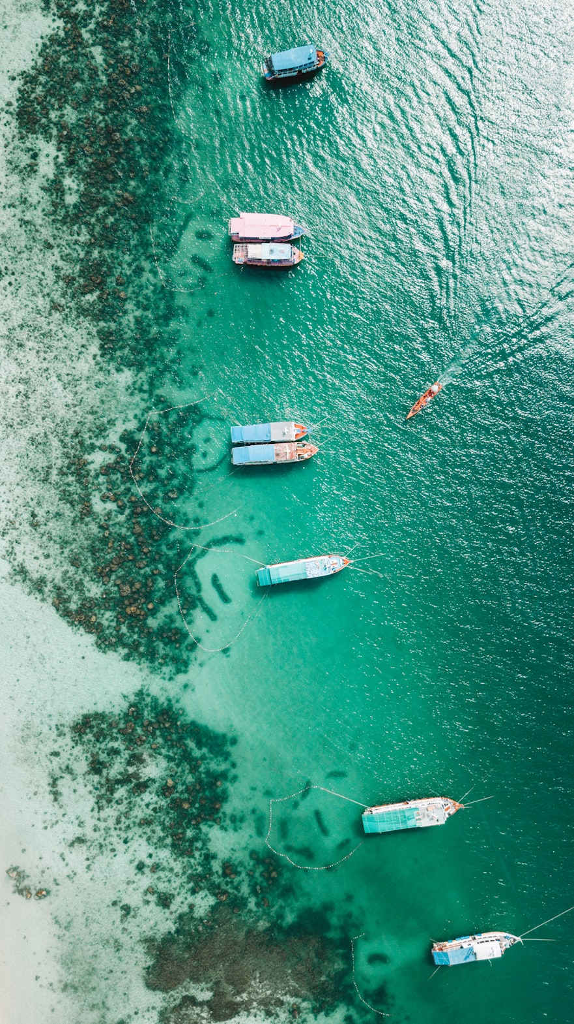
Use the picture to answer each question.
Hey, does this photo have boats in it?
Yes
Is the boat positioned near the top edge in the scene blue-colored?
Yes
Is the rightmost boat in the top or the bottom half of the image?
bottom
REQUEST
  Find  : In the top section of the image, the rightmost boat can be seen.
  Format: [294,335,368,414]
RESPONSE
[407,375,446,419]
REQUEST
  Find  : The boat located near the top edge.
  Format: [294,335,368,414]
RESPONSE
[262,44,331,82]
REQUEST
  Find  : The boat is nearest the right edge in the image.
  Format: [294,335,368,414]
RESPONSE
[430,906,574,970]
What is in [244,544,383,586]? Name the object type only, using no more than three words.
boat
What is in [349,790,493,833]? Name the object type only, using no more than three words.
boat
